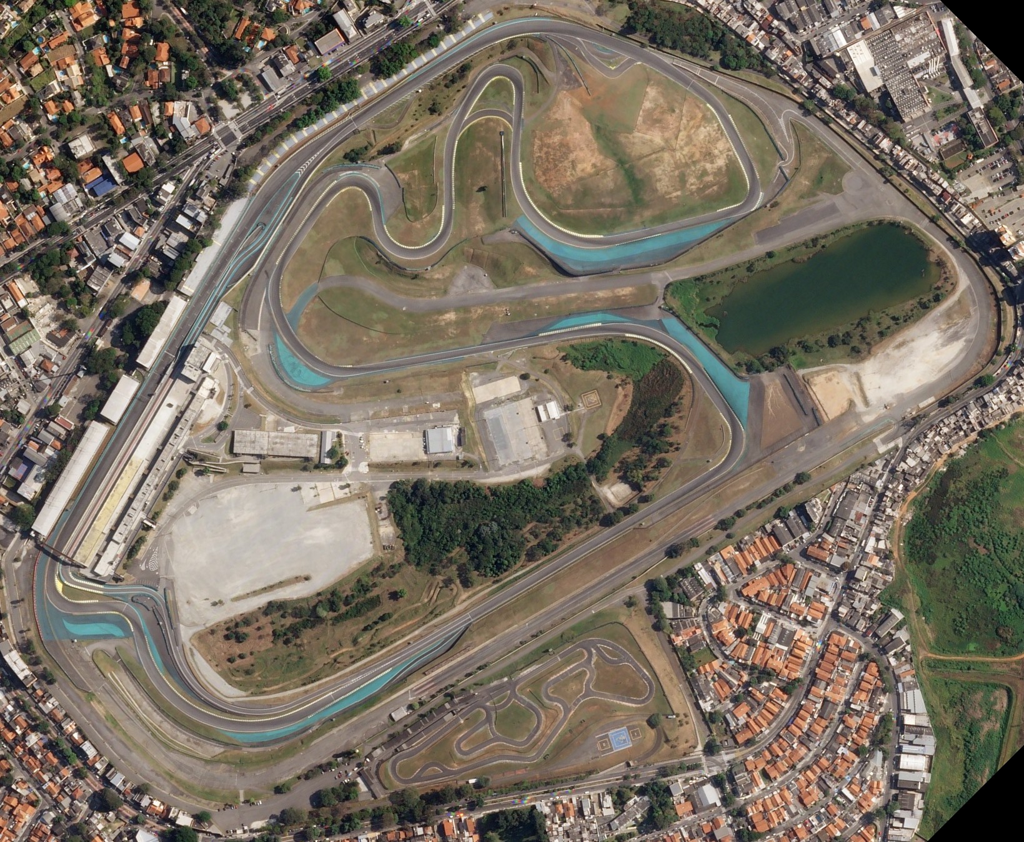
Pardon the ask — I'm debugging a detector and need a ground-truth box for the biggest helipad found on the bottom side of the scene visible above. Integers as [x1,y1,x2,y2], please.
[595,727,632,756]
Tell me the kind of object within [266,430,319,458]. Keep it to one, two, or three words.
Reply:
building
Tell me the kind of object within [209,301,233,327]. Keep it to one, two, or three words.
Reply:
shed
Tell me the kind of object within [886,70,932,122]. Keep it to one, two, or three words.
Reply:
building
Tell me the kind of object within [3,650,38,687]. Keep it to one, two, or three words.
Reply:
house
